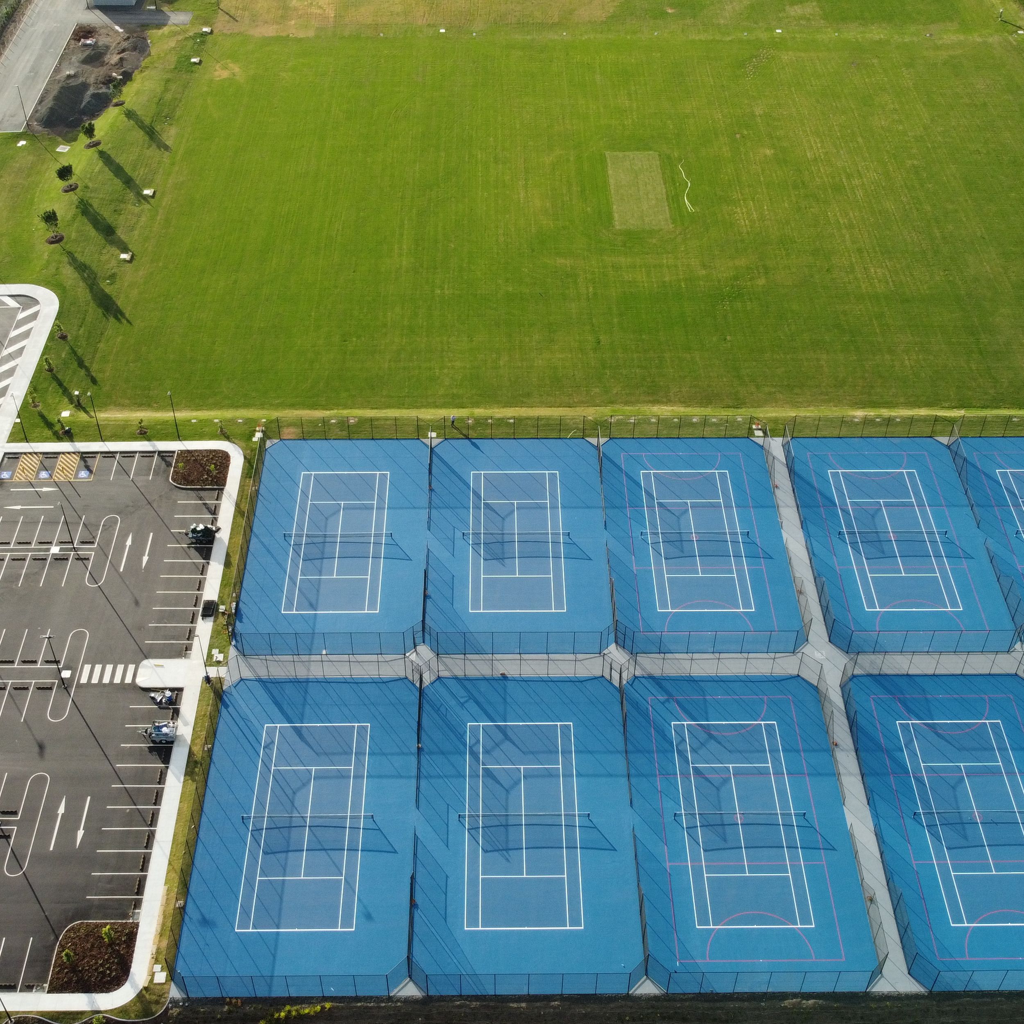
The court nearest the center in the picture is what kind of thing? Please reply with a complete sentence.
It turns out the court nearest the center is a tennis court.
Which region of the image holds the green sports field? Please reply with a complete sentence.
The green sports field is in the top part of the image.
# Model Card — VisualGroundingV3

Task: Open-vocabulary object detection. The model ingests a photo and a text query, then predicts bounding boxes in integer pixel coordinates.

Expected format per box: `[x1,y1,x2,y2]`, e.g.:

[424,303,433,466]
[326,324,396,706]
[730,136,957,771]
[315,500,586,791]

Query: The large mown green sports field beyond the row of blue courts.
[114,40,1024,401]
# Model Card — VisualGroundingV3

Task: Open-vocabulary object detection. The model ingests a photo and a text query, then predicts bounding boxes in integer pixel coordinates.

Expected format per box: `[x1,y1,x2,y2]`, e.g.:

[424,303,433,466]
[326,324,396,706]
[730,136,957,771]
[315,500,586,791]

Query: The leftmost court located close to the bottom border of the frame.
[172,677,418,997]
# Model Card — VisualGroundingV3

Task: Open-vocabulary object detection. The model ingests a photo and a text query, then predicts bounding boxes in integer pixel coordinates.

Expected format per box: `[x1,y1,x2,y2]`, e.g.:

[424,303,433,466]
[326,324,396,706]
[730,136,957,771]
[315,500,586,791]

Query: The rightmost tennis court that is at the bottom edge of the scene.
[841,674,1024,990]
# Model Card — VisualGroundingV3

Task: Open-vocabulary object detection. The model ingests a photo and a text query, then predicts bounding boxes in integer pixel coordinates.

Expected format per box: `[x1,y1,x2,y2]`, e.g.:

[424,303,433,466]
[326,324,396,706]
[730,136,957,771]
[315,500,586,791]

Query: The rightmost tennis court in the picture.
[948,437,1024,642]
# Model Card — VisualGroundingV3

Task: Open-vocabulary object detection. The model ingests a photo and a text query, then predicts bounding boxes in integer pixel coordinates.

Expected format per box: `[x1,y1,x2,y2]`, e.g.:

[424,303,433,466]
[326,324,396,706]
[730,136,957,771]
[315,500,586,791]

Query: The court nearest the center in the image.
[423,438,615,654]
